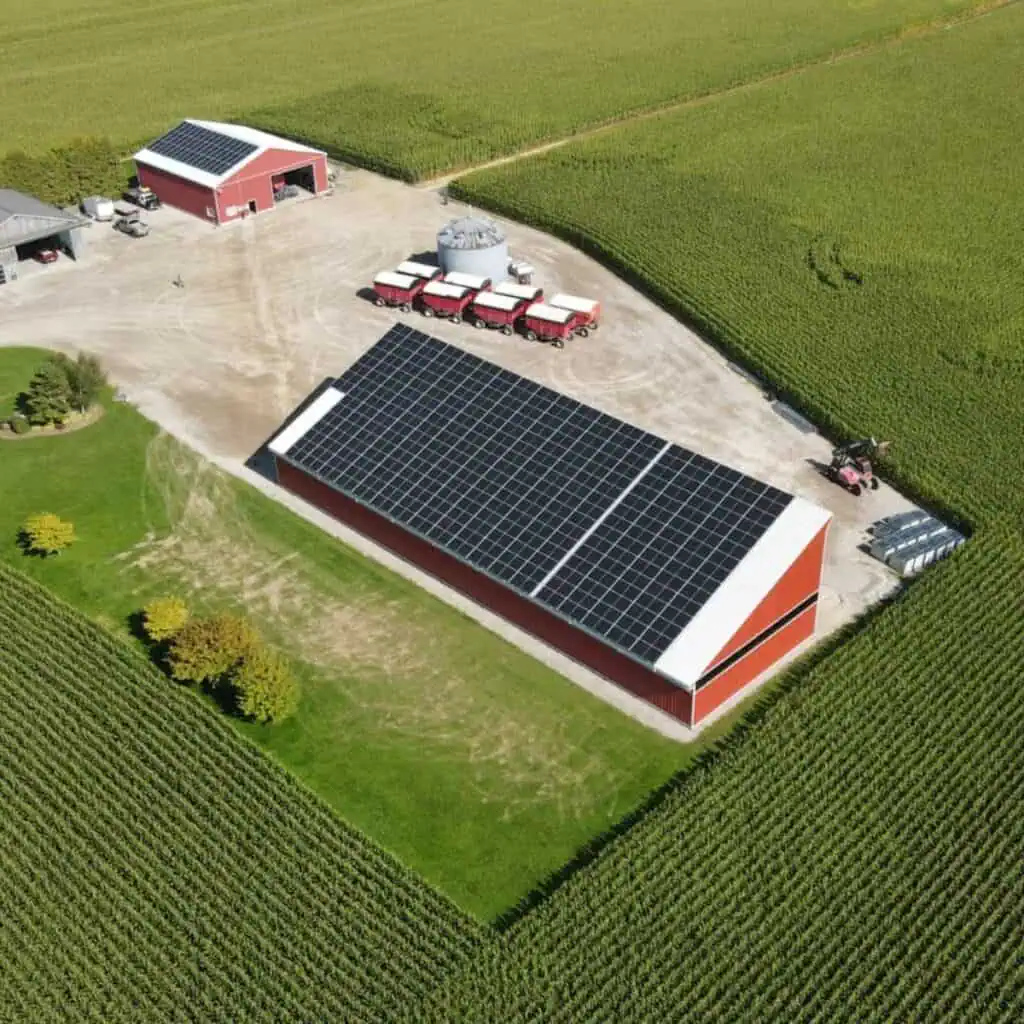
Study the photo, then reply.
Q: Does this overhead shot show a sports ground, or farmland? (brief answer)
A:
farmland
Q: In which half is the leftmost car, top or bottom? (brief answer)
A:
top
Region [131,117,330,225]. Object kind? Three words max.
barn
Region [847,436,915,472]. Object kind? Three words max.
work vehicle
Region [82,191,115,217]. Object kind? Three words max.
trailer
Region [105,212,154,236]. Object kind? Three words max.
truck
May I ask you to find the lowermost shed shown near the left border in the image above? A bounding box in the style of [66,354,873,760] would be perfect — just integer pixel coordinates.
[0,183,93,282]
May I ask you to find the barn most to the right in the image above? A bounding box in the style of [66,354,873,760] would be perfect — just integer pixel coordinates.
[268,322,834,730]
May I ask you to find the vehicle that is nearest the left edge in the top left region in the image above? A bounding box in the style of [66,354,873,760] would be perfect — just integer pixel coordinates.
[19,245,59,267]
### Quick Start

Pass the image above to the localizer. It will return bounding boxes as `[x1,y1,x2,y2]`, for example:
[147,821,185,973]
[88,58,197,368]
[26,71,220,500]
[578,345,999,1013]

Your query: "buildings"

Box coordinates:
[0,183,93,282]
[268,322,834,730]
[131,117,330,225]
